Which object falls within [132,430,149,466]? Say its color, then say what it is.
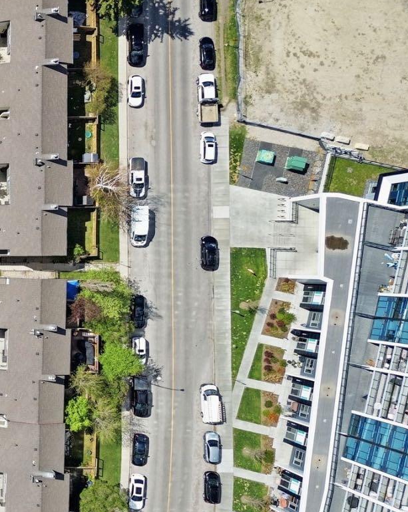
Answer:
black car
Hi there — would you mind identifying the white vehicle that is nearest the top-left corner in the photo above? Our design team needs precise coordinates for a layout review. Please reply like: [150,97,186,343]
[128,74,145,109]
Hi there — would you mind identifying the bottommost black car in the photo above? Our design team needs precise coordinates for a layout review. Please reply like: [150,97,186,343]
[202,469,221,504]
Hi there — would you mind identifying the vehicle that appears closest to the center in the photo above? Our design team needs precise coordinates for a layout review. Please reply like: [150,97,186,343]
[200,236,219,270]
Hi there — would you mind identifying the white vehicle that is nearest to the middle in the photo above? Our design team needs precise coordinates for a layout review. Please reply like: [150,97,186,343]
[131,206,150,246]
